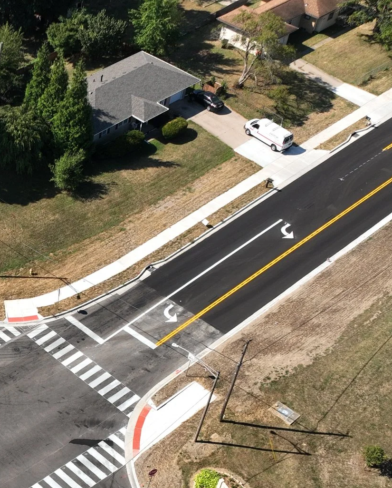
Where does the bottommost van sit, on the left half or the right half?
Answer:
right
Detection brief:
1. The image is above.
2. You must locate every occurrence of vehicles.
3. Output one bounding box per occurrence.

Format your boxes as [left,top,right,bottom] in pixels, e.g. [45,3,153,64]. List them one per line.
[244,121,293,153]
[191,93,224,110]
